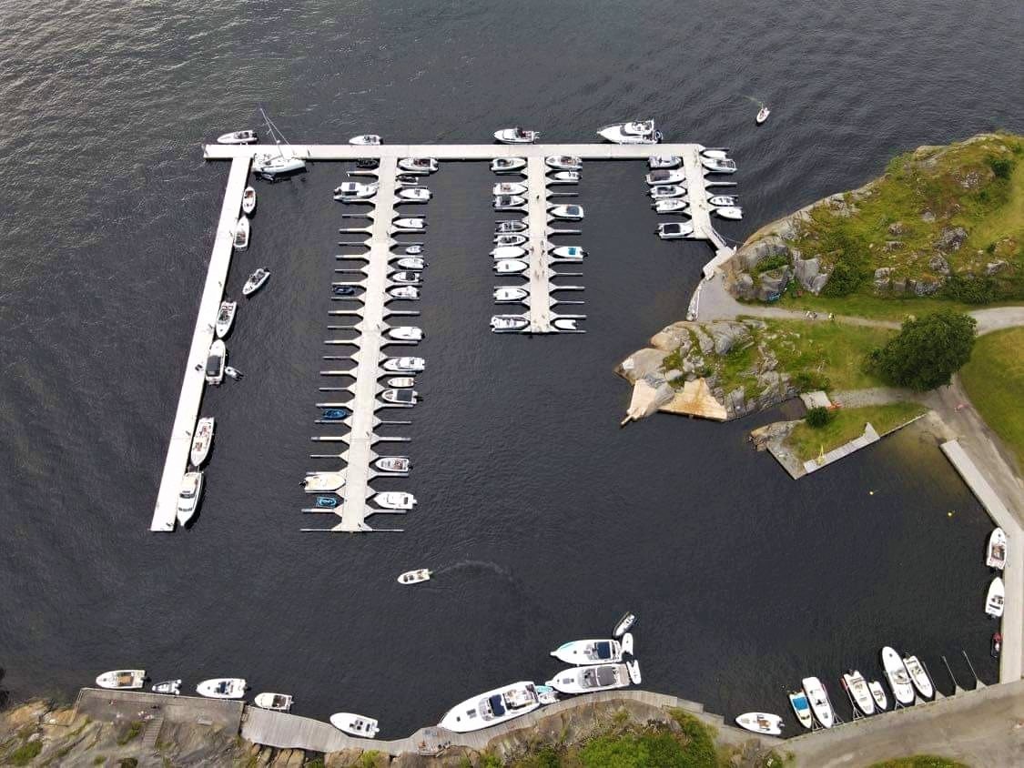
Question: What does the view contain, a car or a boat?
boat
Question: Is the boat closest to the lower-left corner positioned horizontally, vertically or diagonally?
horizontally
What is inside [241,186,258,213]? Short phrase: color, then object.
white boat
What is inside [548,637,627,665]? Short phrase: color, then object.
white boat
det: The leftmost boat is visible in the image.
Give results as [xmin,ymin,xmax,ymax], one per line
[94,668,149,690]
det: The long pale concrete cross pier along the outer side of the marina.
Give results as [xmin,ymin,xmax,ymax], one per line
[204,143,700,160]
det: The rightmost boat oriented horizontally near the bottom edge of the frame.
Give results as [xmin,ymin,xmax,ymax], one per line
[735,710,785,734]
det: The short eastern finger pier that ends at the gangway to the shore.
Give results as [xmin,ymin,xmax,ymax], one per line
[683,156,711,241]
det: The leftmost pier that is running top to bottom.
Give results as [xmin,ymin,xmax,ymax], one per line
[151,158,251,532]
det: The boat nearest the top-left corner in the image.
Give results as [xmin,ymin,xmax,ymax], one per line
[218,131,258,144]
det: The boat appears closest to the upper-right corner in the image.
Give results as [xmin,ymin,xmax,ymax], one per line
[756,105,771,123]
